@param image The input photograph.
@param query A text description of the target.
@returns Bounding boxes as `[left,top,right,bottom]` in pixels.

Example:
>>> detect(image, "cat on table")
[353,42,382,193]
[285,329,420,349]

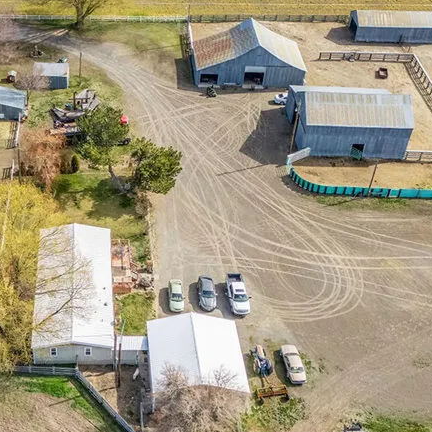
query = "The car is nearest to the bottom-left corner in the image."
[168,280,186,312]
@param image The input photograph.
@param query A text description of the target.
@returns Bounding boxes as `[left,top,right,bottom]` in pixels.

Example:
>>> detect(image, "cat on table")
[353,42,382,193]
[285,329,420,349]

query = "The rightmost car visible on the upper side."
[267,92,285,105]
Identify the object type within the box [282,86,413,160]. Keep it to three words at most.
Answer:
barn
